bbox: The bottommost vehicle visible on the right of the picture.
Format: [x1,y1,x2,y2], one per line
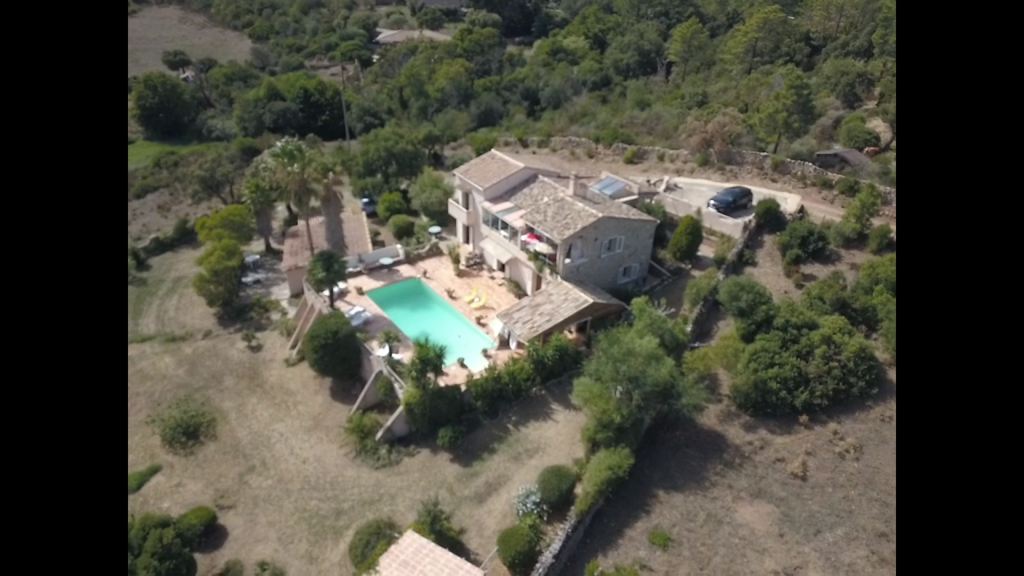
[708,189,758,214]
